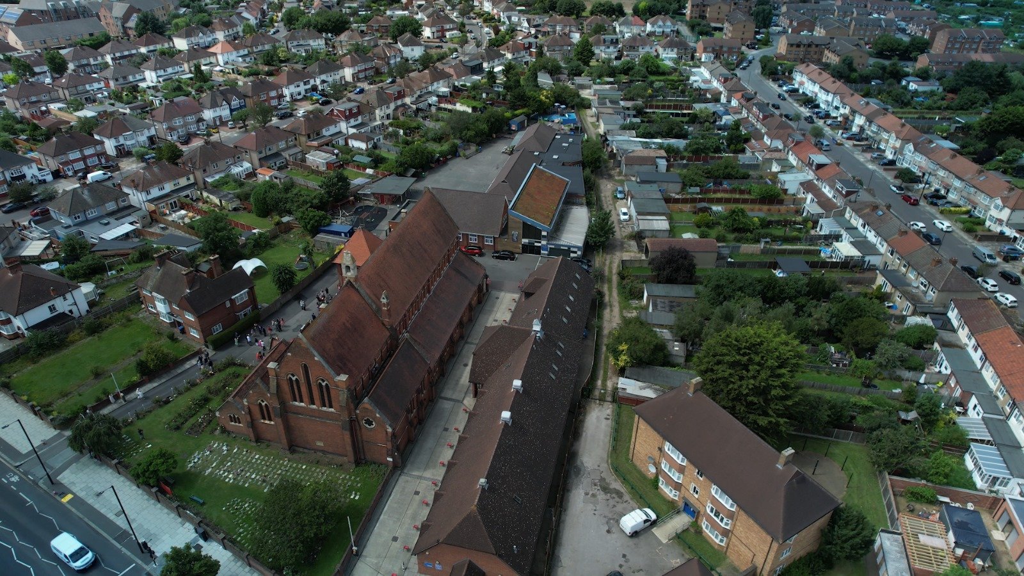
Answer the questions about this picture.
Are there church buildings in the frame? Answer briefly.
Yes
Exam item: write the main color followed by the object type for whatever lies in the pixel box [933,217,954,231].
white car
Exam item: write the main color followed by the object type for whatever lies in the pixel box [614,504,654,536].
white van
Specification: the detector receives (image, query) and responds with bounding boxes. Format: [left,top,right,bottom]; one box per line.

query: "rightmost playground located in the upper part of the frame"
[403,121,538,193]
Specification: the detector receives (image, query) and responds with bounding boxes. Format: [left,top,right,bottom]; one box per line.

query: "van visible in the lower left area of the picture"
[44,527,96,570]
